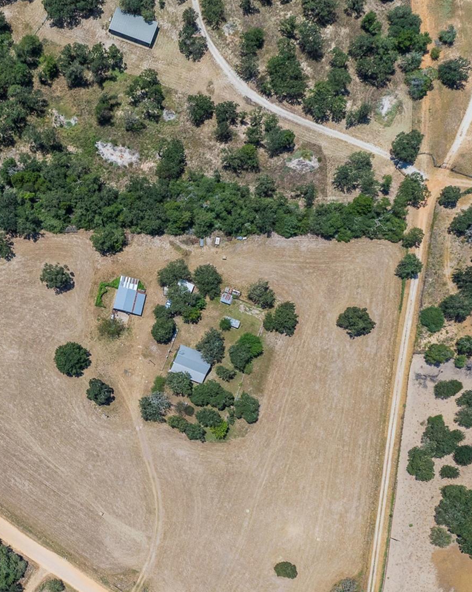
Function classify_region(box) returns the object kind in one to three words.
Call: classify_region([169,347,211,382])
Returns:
house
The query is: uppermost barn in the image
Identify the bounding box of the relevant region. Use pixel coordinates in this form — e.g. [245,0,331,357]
[109,7,158,48]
